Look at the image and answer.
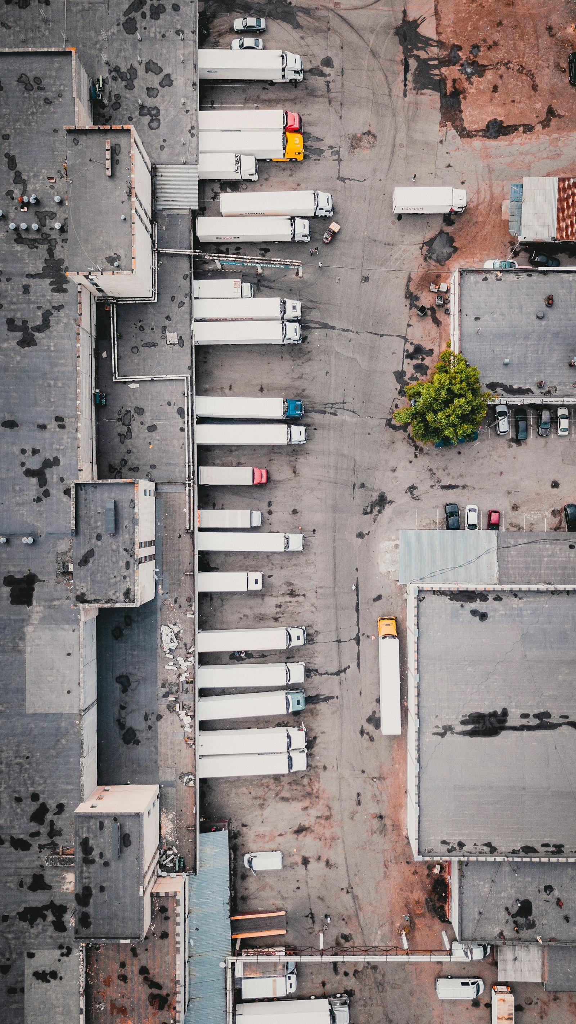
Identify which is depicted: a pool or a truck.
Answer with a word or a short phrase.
truck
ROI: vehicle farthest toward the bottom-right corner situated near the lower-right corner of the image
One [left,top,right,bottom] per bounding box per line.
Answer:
[490,981,514,1024]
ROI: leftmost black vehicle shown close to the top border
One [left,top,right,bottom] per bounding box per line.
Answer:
[199,11,212,41]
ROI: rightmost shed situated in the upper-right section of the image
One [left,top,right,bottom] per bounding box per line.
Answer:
[515,177,576,249]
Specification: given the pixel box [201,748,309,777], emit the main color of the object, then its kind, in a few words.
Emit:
white truck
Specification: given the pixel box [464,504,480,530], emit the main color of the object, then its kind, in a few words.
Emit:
white car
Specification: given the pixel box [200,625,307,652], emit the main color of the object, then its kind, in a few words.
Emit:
white truck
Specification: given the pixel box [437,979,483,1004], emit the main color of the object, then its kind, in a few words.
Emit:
white vehicle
